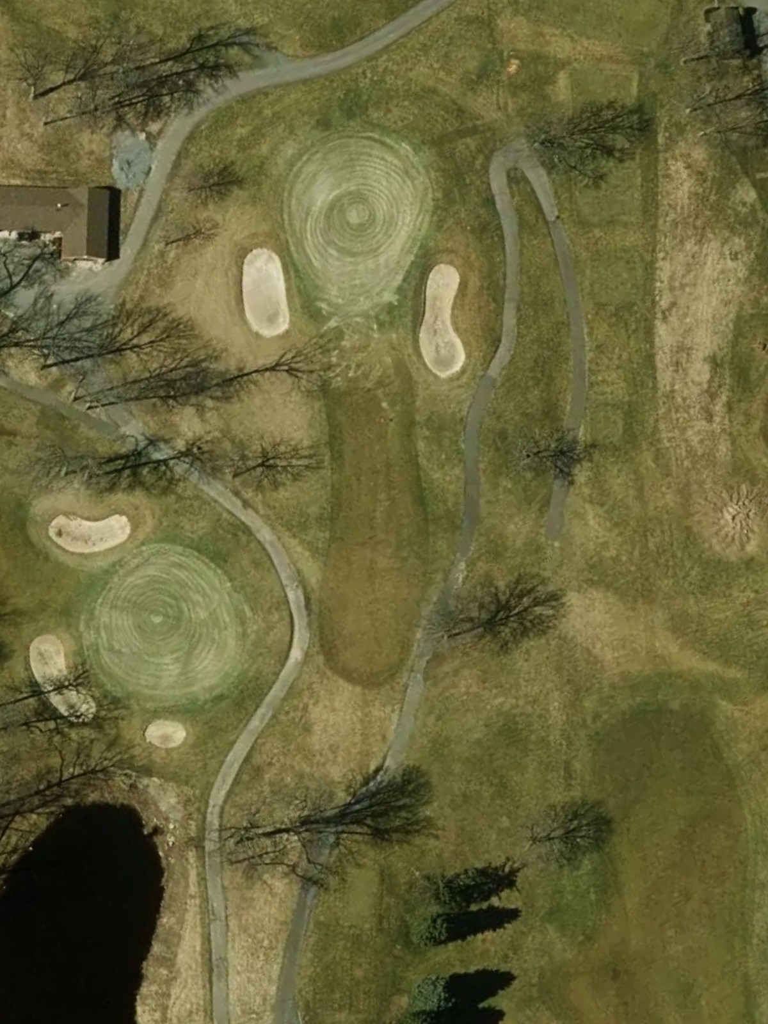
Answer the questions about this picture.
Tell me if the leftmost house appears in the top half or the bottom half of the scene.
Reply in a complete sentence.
It is in the top half that the leftmost house appears.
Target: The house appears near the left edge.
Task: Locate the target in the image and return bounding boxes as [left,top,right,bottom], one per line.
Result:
[0,184,109,259]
